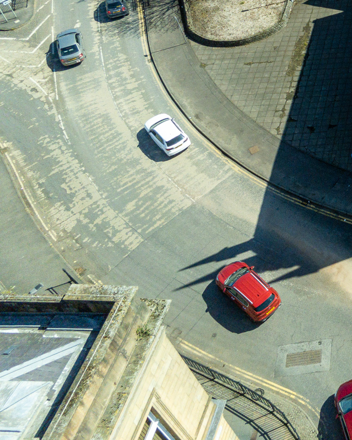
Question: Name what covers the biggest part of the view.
paved ground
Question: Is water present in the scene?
No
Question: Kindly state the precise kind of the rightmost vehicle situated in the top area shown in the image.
car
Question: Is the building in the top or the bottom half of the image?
bottom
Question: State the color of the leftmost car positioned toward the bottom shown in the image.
red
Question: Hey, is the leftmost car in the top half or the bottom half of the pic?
top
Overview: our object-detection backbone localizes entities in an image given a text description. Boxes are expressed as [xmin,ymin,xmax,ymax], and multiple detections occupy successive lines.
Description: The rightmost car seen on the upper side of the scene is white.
[141,109,190,158]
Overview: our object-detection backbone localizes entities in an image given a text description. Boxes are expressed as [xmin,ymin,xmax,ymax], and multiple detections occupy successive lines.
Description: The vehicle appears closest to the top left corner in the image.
[46,25,84,69]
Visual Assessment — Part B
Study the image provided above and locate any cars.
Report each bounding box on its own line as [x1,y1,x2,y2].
[141,109,190,158]
[213,258,284,322]
[46,25,84,69]
[328,375,352,440]
[101,0,127,19]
